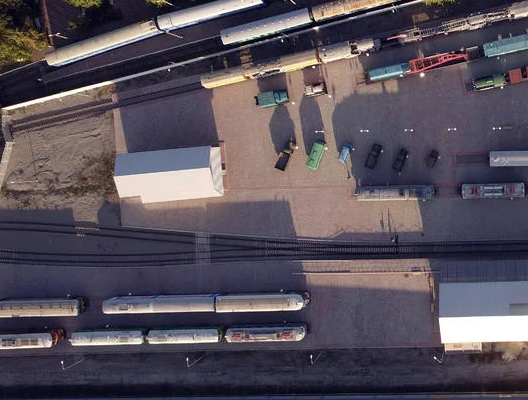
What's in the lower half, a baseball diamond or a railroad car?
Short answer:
railroad car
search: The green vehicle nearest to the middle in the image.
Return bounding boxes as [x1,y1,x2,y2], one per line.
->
[306,139,329,171]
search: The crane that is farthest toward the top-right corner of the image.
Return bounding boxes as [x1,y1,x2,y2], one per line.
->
[408,9,511,44]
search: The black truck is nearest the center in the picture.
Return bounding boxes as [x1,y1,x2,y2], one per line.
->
[273,138,300,172]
